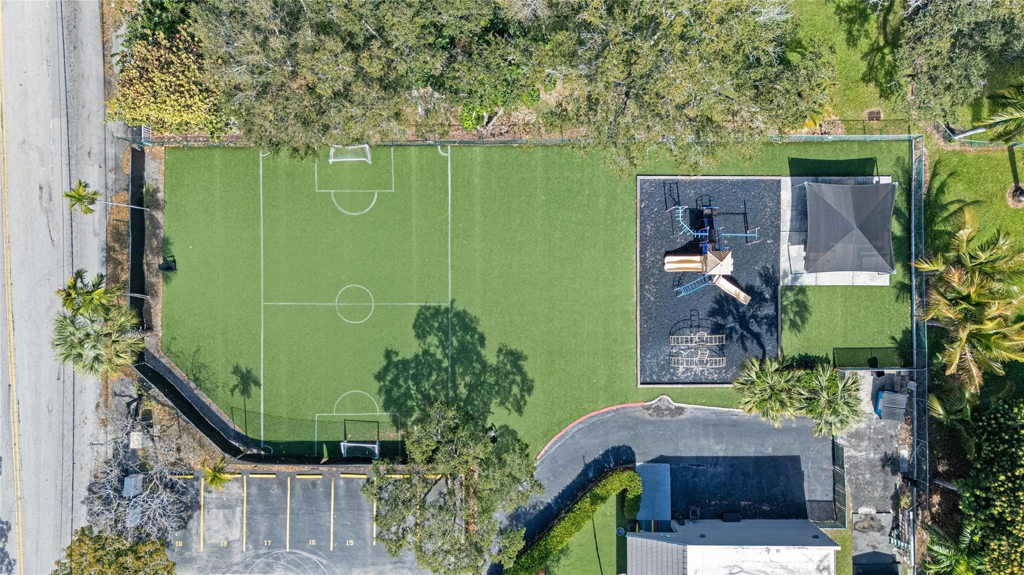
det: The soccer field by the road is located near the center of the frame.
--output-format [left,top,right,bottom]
[161,142,912,467]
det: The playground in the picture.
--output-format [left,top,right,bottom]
[637,175,782,388]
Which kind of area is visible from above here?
sports ground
